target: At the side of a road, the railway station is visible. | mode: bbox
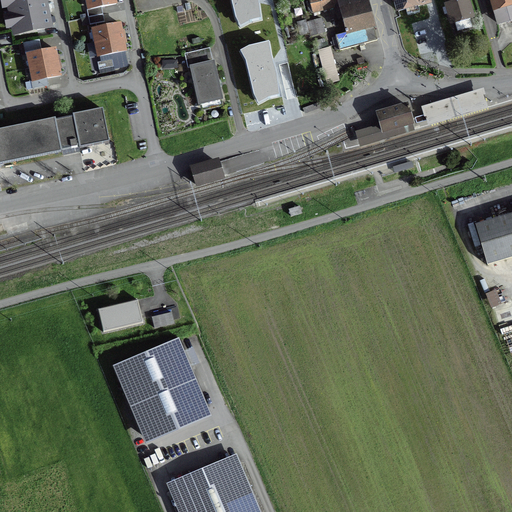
[254,98,512,208]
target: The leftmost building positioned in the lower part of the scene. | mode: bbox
[98,300,143,332]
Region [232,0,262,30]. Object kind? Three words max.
building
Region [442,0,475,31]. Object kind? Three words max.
house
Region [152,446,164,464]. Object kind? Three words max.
vehicle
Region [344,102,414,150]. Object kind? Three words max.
building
